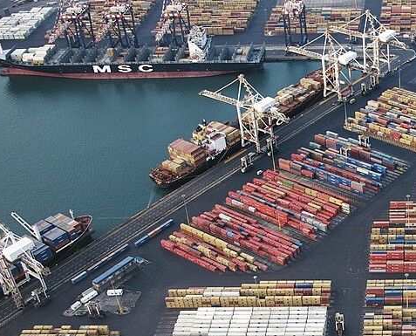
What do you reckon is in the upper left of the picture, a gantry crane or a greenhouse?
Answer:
gantry crane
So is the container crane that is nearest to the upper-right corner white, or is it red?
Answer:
white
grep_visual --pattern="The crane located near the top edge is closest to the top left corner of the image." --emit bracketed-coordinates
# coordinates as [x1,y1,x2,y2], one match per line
[32,0,91,49]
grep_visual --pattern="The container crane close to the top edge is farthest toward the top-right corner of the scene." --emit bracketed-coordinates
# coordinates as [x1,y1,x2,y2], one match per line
[325,9,416,84]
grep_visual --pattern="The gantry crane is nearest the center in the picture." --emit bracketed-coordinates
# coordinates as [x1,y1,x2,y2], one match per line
[189,77,296,164]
